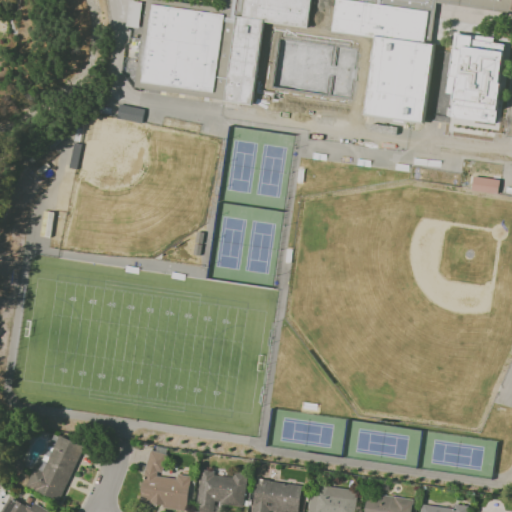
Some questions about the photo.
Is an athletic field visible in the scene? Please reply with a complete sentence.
Yes, the picture does show an athletic field.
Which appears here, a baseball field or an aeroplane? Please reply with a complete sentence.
It is a baseball field that can be seen here.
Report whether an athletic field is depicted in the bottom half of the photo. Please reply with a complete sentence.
Yes, you'll find an athletic field in the bottom half of the photo.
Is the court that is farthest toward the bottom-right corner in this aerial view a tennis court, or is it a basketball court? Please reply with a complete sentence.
What you see as the court that is farthest toward the bottom-right corner is a tennis court.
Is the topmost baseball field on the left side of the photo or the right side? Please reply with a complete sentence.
The topmost baseball field sits on the left side.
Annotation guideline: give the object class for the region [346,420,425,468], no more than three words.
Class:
tennis court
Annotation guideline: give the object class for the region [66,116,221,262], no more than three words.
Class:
baseball field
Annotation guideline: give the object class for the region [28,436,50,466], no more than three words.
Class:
swimming pool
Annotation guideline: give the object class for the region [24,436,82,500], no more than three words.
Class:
house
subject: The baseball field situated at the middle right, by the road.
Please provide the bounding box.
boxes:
[290,188,512,428]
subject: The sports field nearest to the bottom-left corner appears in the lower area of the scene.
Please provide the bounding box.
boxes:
[17,254,276,436]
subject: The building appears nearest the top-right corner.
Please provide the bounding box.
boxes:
[444,32,504,125]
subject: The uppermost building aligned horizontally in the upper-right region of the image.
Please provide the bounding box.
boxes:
[330,0,430,42]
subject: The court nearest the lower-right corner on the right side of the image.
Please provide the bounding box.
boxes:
[422,432,499,479]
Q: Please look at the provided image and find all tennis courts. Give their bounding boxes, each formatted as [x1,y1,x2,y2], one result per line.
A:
[268,408,348,457]
[255,130,298,210]
[242,206,288,289]
[422,432,499,479]
[207,200,255,284]
[346,420,425,468]
[222,126,264,205]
